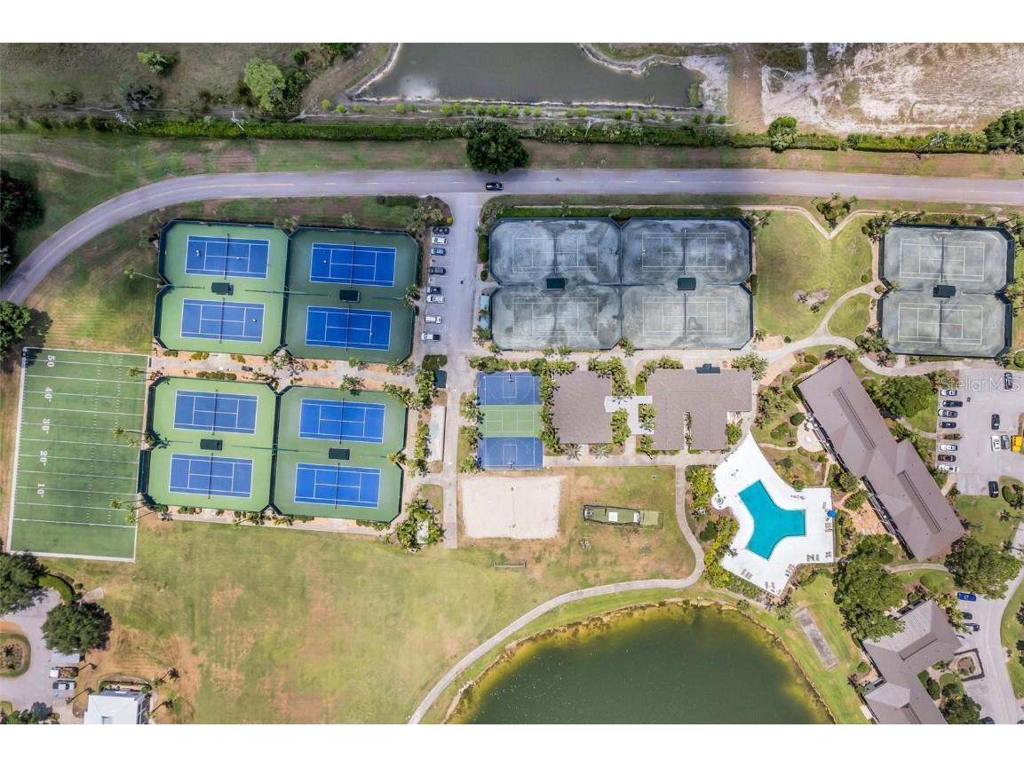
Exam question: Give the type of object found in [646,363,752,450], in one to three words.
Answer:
building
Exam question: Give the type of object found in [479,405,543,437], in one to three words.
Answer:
sports court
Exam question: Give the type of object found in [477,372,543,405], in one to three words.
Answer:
basketball court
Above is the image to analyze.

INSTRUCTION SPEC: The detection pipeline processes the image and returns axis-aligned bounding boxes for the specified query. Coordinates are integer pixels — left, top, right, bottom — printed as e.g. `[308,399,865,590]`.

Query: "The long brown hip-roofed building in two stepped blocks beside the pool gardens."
[797,357,966,563]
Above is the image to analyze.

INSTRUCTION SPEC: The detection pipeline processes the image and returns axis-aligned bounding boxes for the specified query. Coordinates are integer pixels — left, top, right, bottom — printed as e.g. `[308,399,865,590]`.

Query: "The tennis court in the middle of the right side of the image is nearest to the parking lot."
[884,289,1003,357]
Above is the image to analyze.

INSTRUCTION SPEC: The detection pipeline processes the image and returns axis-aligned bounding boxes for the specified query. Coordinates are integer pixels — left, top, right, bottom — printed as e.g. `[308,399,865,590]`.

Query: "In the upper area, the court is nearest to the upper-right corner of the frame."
[886,225,1005,295]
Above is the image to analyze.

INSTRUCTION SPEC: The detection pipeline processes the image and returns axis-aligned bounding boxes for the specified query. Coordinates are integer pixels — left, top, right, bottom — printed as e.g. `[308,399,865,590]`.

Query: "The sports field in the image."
[5,347,150,566]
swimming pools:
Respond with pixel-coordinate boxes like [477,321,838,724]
[712,432,832,596]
